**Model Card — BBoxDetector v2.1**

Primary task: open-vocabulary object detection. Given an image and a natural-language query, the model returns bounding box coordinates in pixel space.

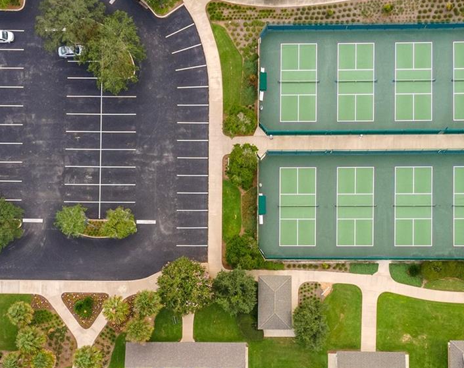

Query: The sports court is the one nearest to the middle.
[278,167,319,245]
